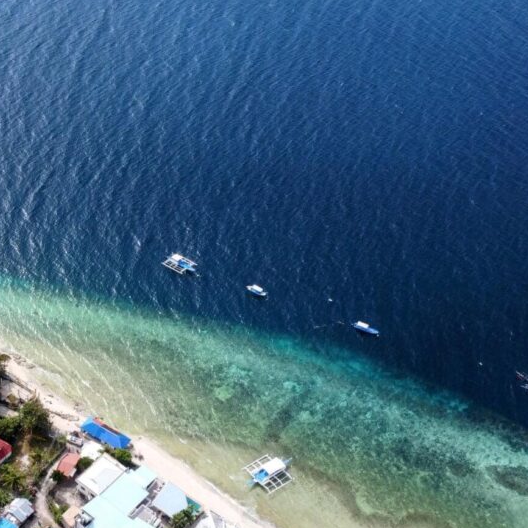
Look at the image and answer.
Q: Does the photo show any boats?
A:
Yes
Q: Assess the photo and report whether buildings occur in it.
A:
Yes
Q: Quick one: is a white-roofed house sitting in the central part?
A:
No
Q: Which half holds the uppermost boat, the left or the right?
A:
left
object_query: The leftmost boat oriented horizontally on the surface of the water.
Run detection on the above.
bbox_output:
[164,256,198,278]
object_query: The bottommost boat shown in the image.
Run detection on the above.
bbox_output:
[243,452,295,493]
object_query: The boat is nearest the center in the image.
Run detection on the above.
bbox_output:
[245,283,267,297]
